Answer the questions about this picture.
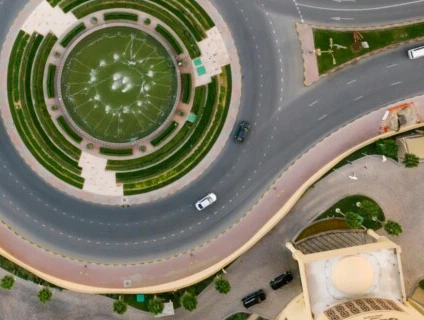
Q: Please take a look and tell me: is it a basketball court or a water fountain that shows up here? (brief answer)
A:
water fountain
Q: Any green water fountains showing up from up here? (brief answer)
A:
Yes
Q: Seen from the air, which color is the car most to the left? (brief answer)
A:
white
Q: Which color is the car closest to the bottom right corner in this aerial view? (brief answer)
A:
black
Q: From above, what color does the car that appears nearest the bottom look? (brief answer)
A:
black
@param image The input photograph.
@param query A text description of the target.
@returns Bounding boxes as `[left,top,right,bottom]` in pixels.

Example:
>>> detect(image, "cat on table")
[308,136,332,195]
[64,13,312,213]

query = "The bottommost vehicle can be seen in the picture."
[240,288,267,309]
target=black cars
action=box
[240,288,267,309]
[268,270,294,291]
[234,120,251,144]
